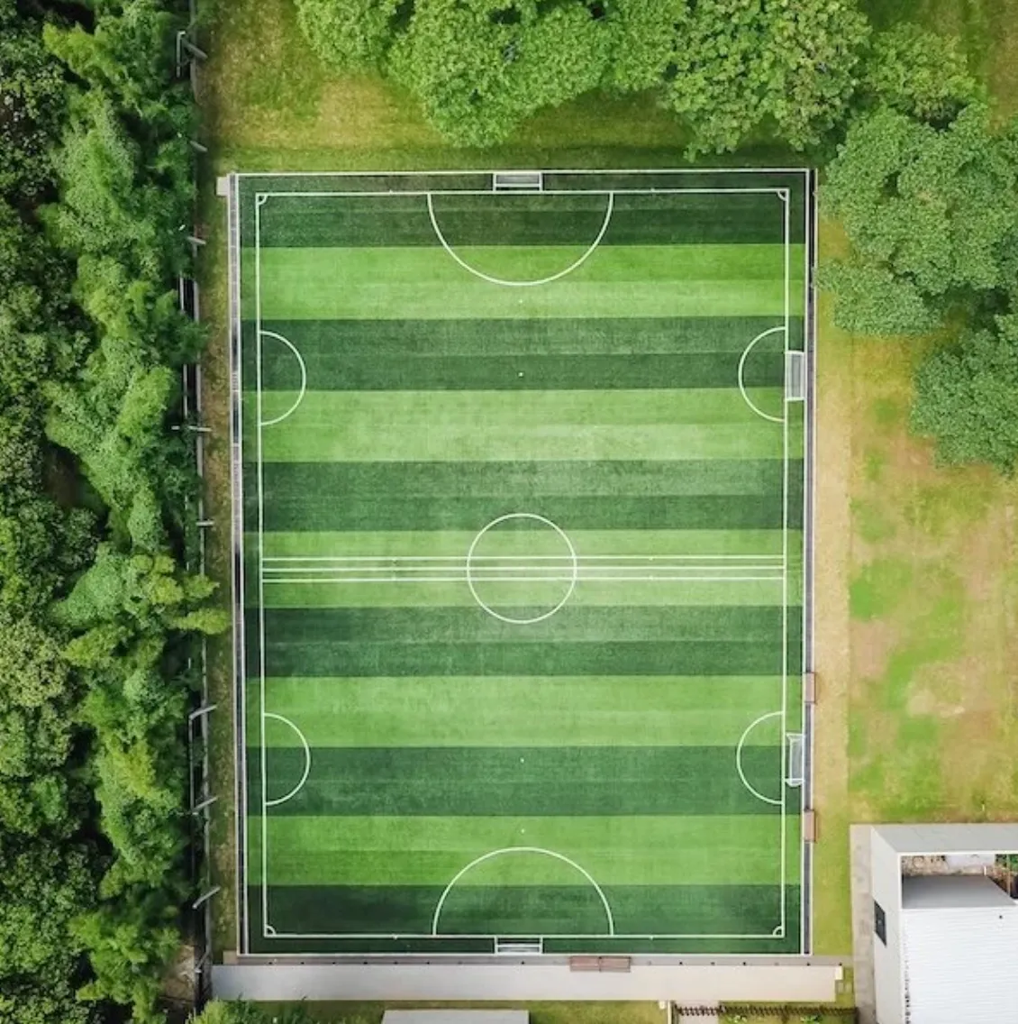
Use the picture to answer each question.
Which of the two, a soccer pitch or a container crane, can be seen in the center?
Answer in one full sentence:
There is a soccer pitch in the center.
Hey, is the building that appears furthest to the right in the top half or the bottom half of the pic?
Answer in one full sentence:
You can find the building that appears furthest to the right in the bottom half.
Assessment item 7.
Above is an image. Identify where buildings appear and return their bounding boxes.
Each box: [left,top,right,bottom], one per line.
[385,1009,529,1024]
[872,821,1018,1024]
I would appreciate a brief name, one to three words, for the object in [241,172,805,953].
soccer field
